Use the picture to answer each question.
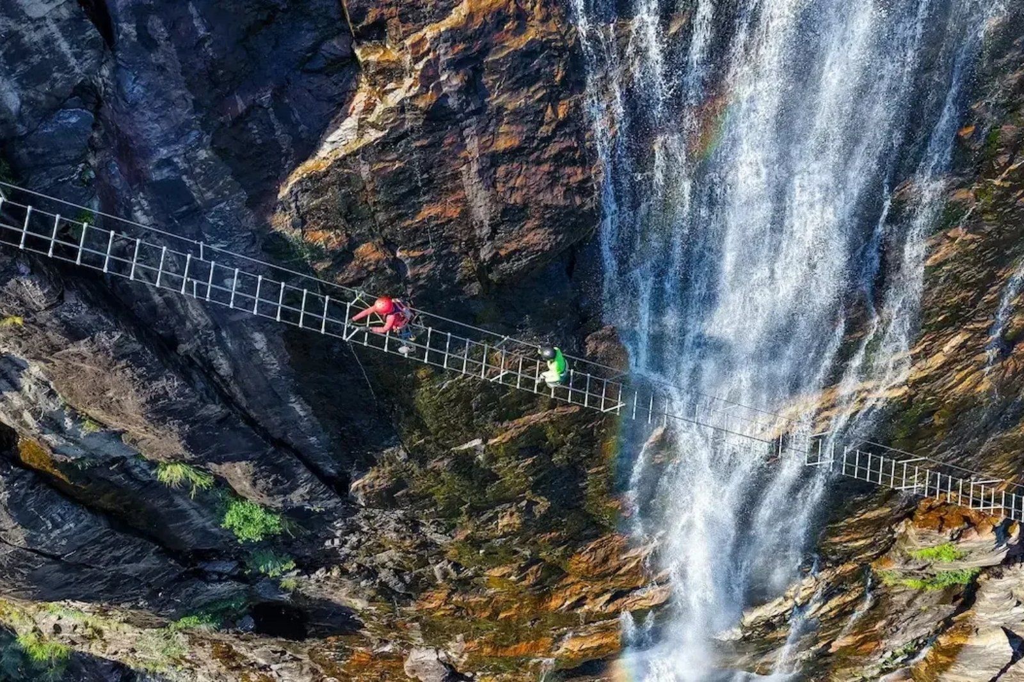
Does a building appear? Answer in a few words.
No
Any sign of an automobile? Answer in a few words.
No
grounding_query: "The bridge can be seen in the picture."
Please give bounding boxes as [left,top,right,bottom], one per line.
[0,182,1024,523]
